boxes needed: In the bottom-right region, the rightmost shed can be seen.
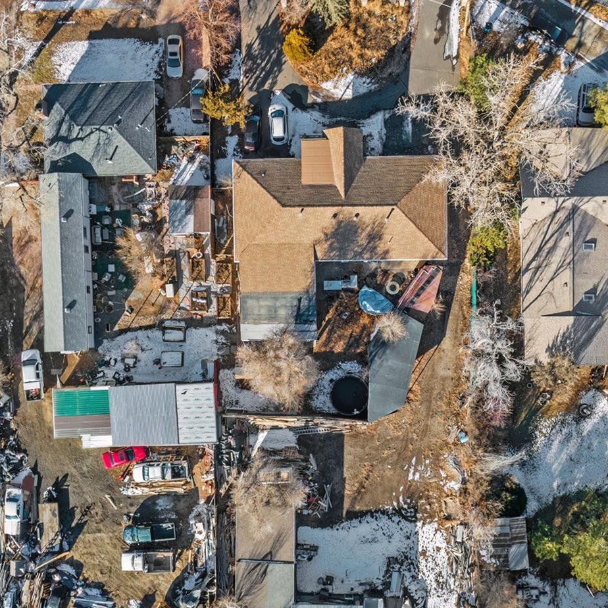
[489,515,529,570]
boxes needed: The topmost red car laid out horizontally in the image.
[102,446,146,470]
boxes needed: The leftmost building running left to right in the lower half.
[51,383,219,448]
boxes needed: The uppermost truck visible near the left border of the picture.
[16,350,41,403]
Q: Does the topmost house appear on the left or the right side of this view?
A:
left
